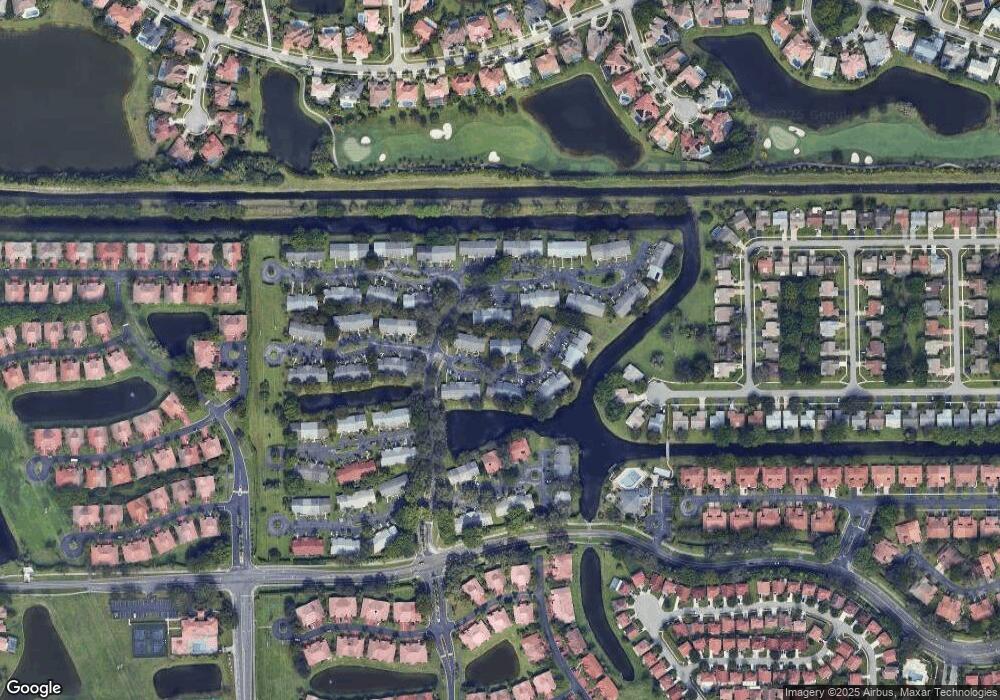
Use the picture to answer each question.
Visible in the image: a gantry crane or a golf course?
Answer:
golf course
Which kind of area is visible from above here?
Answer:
residential area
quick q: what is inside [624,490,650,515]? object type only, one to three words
building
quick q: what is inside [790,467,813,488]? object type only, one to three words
house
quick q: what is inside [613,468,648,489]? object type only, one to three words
swimming pool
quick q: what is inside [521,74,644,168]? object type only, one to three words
pond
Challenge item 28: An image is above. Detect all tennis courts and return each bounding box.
[152,630,162,653]
[135,630,145,653]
